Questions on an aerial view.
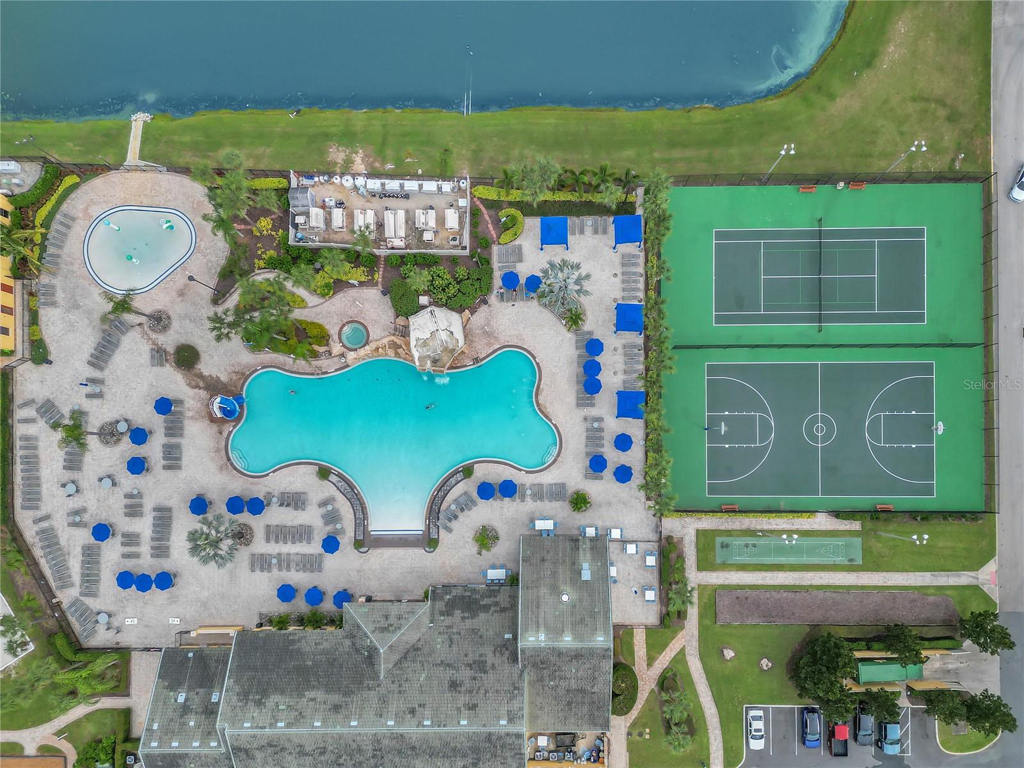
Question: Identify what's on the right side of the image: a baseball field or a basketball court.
basketball court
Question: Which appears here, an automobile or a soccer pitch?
automobile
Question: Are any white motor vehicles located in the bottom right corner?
Yes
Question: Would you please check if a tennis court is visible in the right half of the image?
Yes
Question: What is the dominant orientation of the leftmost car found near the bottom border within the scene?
from top to bottom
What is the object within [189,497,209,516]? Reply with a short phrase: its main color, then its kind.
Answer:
blue umbrella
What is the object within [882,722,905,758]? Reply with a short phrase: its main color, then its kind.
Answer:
blue car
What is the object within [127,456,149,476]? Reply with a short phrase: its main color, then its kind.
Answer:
blue umbrella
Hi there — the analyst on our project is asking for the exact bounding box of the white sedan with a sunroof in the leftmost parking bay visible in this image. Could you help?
[747,709,768,753]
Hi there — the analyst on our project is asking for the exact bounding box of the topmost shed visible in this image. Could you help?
[288,183,313,209]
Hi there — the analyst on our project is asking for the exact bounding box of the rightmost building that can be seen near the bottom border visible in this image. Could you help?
[139,536,613,768]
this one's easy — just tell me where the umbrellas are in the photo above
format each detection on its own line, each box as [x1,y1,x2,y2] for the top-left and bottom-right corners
[524,275,543,294]
[588,454,608,473]
[154,396,176,416]
[127,456,149,476]
[582,358,602,377]
[333,589,353,609]
[476,481,496,501]
[498,479,517,498]
[154,571,174,591]
[135,573,155,592]
[226,495,246,515]
[501,271,521,291]
[613,464,633,484]
[584,338,604,358]
[116,570,136,589]
[583,377,602,396]
[277,583,297,603]
[189,497,209,516]
[304,587,324,606]
[92,522,115,542]
[613,433,633,452]
[247,496,266,516]
[130,427,150,446]
[321,534,341,554]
